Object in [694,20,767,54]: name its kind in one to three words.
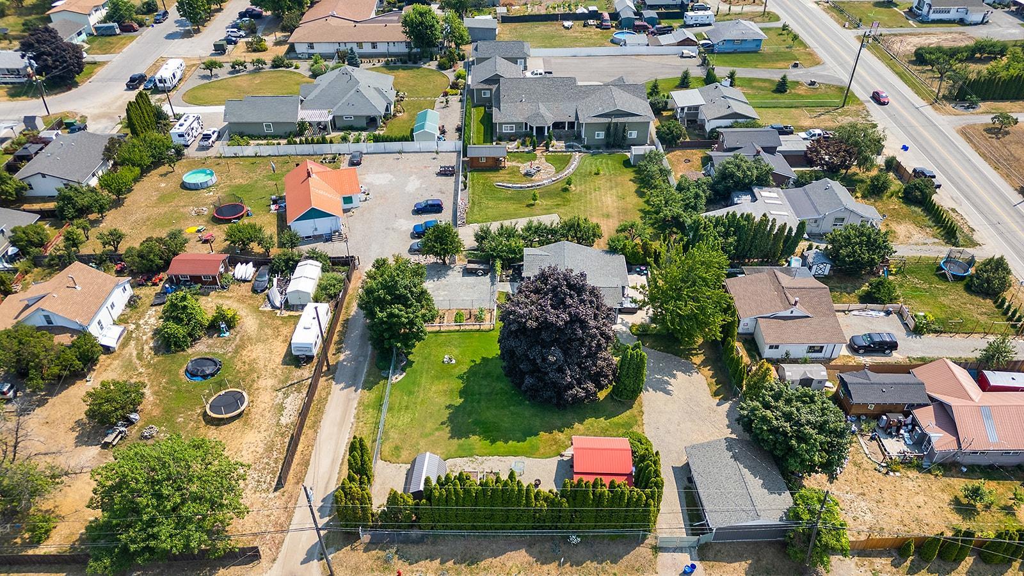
house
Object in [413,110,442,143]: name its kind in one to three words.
shed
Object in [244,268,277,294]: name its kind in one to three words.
car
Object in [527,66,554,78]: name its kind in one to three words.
vehicle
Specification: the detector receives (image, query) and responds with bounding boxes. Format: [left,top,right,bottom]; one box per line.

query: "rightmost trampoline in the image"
[935,242,982,281]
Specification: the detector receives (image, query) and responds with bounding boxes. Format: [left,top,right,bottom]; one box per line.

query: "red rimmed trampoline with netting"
[209,191,249,221]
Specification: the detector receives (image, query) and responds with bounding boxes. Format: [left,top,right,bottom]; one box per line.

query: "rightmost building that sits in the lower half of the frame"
[914,363,1024,468]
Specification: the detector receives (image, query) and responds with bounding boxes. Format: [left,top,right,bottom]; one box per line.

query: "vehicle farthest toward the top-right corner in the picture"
[873,89,890,102]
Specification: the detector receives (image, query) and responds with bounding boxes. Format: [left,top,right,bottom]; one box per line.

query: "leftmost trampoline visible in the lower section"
[201,376,251,423]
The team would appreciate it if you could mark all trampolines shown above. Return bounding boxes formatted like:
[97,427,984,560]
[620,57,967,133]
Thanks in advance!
[935,242,982,281]
[209,191,249,221]
[201,376,251,423]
